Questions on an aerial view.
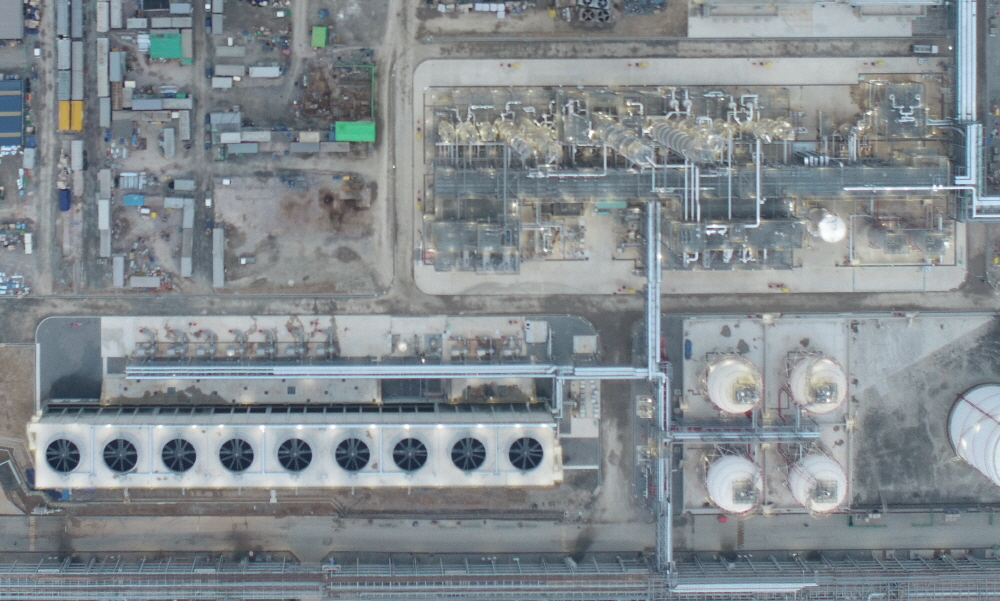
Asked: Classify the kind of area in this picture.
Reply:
industrial area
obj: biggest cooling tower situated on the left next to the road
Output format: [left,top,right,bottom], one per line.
[25,404,564,494]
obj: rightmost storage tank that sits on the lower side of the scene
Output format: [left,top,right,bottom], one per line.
[946,380,1000,490]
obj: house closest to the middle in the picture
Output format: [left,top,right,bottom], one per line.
[523,318,548,343]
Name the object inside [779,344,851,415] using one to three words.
storage tank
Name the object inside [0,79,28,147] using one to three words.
shed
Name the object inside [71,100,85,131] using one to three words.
building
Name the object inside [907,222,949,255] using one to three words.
storage tank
